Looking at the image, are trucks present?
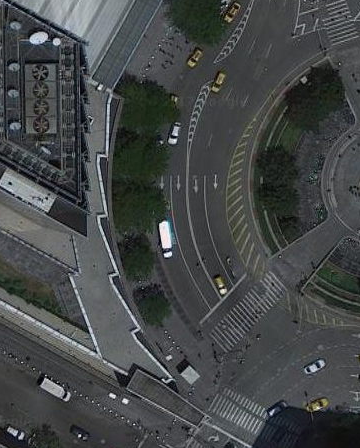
Yes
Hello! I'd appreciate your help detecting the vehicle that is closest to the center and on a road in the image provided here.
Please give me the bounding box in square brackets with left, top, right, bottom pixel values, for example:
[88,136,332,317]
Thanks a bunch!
[156,218,174,258]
